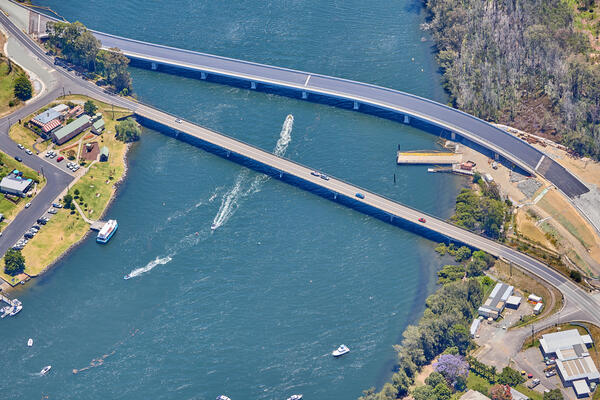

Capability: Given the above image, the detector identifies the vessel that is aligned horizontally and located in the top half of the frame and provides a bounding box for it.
[399,152,462,165]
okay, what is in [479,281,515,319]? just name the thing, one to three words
building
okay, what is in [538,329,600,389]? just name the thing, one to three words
building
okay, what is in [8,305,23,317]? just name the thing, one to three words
boat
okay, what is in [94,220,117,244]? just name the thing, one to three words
ship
